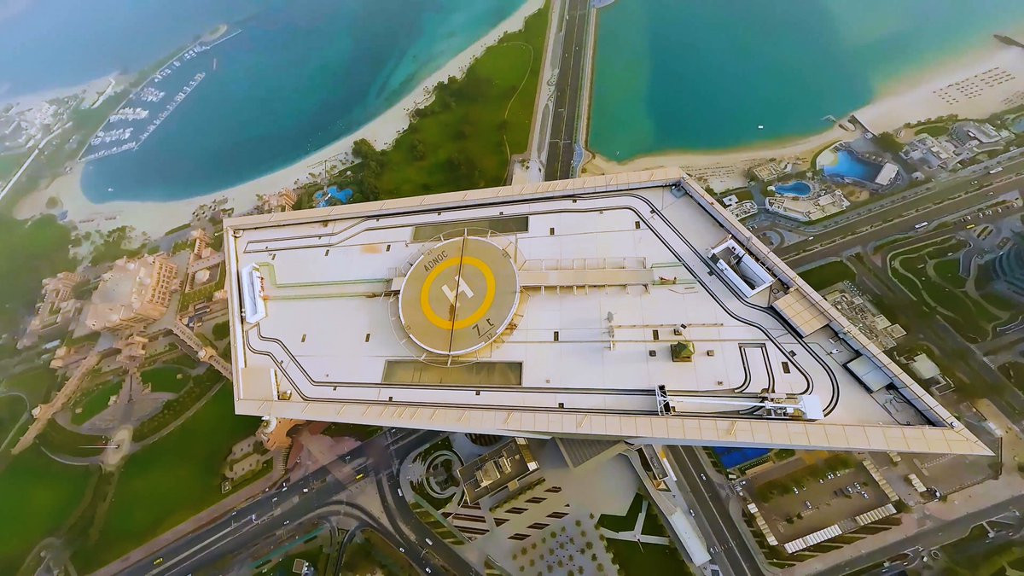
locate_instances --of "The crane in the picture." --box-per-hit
[654,384,824,419]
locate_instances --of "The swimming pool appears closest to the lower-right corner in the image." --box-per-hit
[716,448,777,470]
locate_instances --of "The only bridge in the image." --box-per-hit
[517,266,654,293]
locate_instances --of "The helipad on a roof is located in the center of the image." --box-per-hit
[382,231,654,369]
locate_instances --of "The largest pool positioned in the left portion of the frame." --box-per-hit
[314,183,353,208]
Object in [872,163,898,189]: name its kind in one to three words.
building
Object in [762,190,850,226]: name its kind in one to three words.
building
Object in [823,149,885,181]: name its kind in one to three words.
swimming pool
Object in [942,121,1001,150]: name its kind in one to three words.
house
